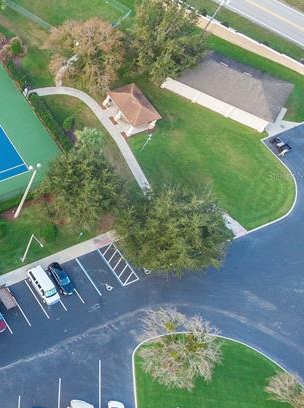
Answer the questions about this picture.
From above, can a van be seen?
Yes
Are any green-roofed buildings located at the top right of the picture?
No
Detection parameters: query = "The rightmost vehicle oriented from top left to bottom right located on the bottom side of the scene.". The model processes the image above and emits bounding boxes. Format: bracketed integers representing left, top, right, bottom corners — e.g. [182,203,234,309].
[47,261,75,296]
